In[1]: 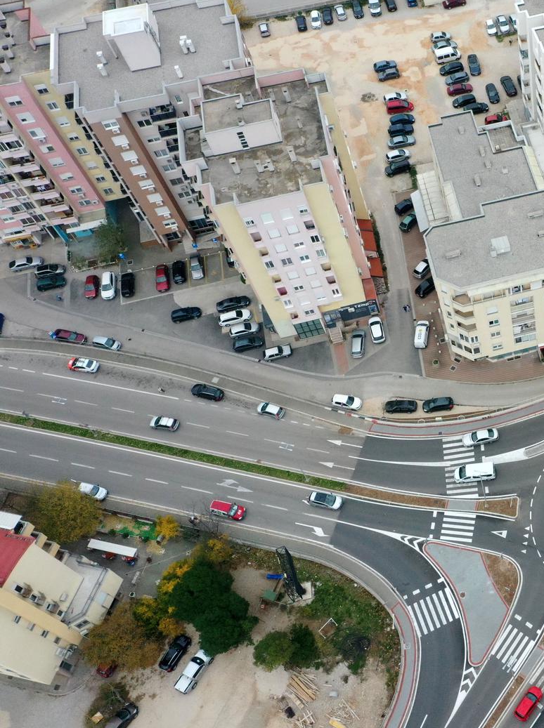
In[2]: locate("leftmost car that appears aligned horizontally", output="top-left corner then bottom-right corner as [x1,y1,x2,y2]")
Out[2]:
[8,253,44,273]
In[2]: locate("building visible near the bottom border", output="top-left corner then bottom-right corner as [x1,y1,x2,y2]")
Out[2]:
[0,510,120,701]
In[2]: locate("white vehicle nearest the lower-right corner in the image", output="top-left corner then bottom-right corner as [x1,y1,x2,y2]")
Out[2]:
[454,461,497,486]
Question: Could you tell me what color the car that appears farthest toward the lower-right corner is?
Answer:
red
